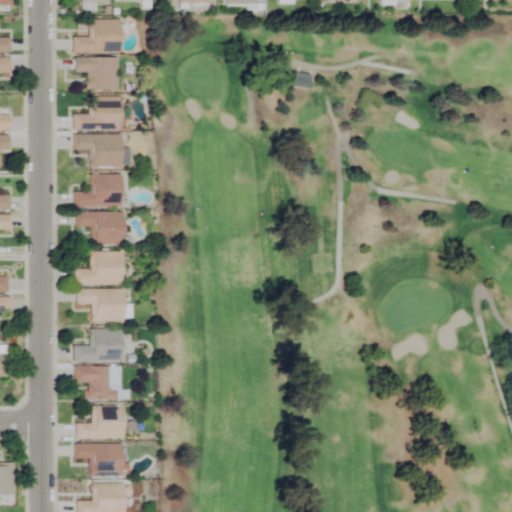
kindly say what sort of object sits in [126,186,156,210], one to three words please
swimming pool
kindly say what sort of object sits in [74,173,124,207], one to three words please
house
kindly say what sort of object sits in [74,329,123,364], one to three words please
house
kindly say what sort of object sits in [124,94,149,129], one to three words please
swimming pool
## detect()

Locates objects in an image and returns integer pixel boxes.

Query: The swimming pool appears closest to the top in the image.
[122,16,142,54]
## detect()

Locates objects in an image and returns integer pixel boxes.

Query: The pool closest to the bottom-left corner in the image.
[130,453,158,478]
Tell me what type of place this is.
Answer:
golf course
